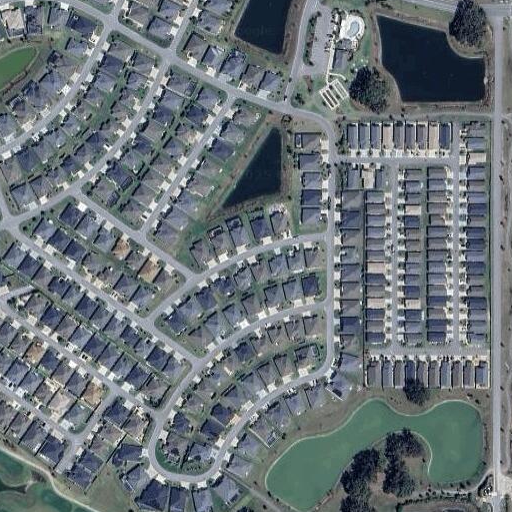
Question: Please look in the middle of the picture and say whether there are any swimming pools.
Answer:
No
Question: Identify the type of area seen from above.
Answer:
residential area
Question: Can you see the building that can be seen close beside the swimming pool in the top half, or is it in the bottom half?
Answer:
top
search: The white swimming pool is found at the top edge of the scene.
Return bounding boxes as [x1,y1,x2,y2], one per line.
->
[338,15,364,41]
